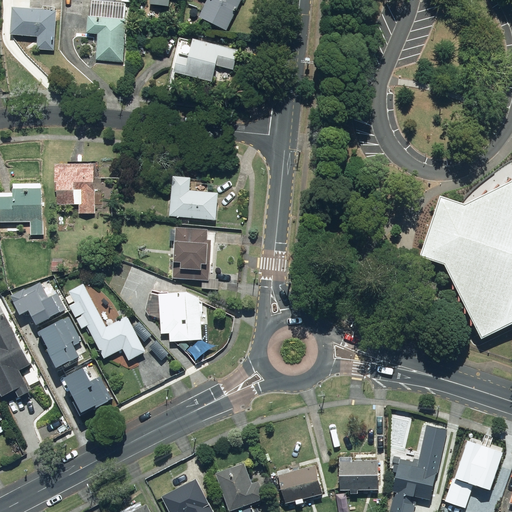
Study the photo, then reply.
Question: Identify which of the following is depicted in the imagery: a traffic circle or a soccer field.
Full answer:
I can see a traffic circle in this picture.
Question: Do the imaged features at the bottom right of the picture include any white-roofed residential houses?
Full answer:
Yes, there is a white-roofed residential house at the bottom right of the picture.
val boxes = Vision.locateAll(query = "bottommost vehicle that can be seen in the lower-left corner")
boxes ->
[46,494,62,507]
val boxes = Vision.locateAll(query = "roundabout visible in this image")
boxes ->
[242,302,338,394]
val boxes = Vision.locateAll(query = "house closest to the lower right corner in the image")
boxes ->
[445,442,504,510]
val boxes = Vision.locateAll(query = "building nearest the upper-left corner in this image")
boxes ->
[10,6,55,50]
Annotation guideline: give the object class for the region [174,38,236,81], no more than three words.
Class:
house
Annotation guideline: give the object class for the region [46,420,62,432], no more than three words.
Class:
vehicle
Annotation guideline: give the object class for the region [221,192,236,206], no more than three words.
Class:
vehicle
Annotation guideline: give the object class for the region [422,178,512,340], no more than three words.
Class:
building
